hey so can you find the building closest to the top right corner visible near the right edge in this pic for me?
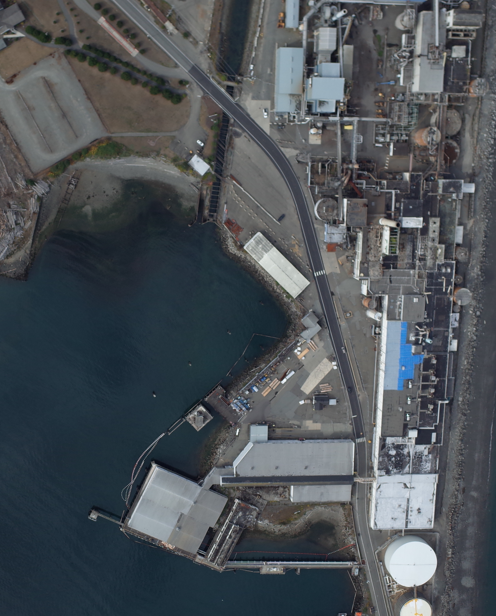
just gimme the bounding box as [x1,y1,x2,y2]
[446,9,485,31]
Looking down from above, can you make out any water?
Yes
